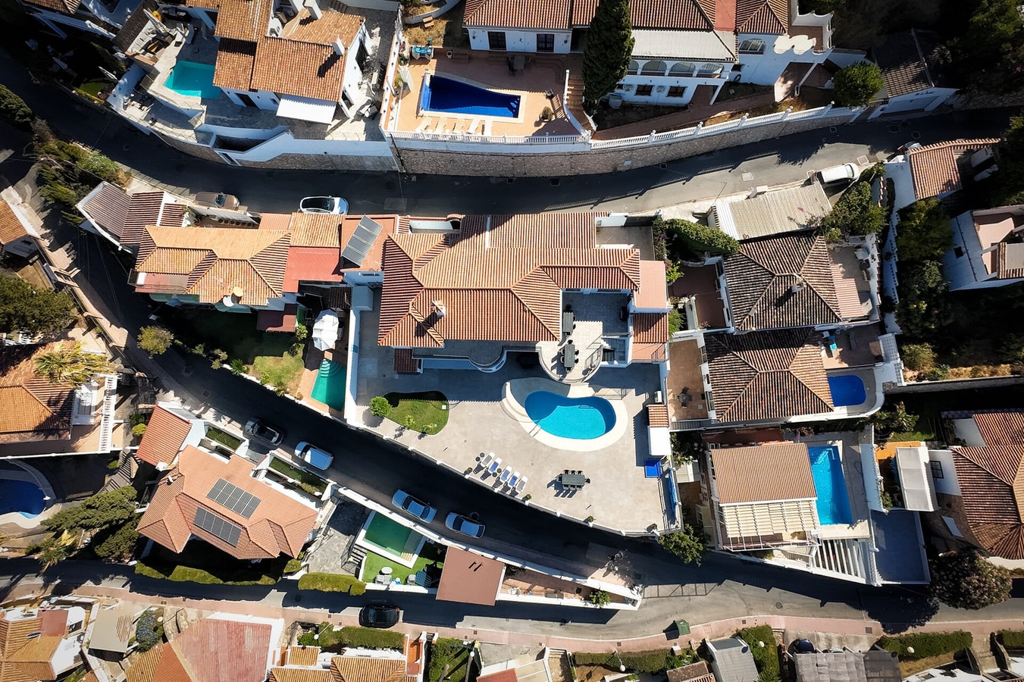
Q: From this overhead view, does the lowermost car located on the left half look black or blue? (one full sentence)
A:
From above, the lowermost car located on the left half appears black.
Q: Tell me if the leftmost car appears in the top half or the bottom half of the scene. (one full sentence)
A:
Seen from above, the leftmost car lies in the top half of the view.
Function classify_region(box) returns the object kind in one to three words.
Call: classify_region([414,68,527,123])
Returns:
swimming pool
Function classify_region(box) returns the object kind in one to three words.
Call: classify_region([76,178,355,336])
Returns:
house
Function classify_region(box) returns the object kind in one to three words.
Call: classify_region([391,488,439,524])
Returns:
car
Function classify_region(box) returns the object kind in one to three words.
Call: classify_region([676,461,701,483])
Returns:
shed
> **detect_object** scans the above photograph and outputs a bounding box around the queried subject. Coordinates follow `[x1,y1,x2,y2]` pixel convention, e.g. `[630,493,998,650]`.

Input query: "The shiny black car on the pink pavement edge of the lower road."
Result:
[358,603,402,628]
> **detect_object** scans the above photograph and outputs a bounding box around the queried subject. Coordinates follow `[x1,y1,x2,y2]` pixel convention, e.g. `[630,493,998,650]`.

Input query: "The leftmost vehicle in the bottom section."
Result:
[243,416,287,451]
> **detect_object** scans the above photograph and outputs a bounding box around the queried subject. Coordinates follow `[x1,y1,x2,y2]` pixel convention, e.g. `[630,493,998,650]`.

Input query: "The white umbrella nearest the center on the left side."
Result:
[315,312,341,350]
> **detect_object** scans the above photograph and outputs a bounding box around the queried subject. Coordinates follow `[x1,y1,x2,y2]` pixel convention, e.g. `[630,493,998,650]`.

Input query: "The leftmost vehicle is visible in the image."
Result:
[193,189,242,212]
